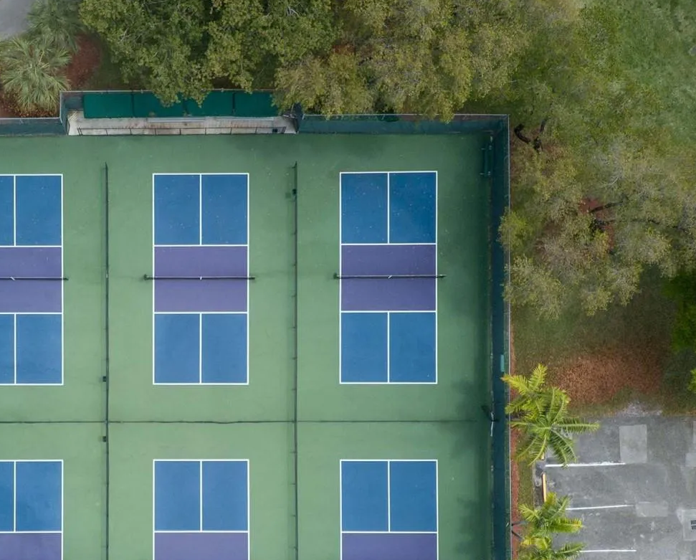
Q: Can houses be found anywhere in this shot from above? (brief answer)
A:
No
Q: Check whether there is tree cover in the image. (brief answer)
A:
Yes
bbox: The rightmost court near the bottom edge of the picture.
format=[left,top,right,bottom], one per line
[390,461,438,532]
